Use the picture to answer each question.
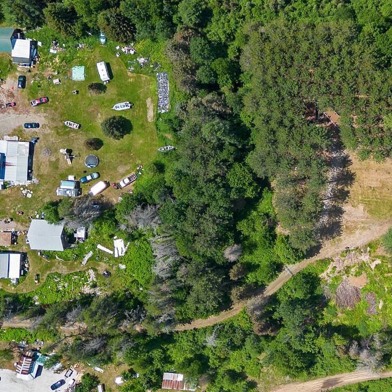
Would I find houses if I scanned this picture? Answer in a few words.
Yes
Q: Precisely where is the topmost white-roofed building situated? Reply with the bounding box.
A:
[11,39,39,68]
